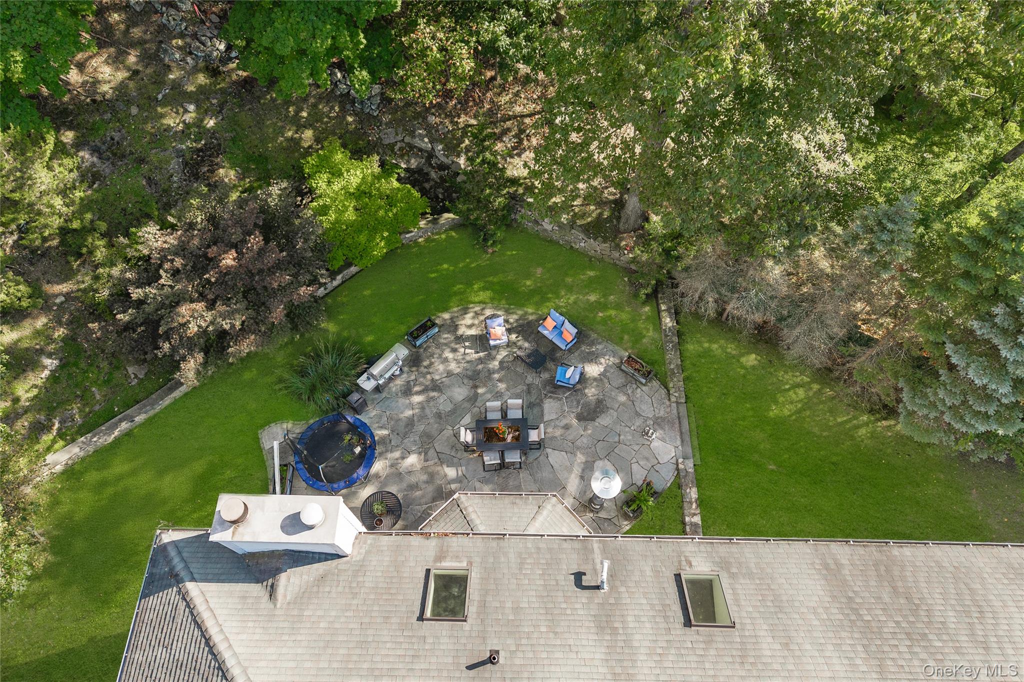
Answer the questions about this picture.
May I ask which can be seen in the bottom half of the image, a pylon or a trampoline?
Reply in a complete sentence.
You can see a trampoline in the bottom half of the image.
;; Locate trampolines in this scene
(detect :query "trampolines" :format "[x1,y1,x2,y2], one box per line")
[284,397,381,497]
